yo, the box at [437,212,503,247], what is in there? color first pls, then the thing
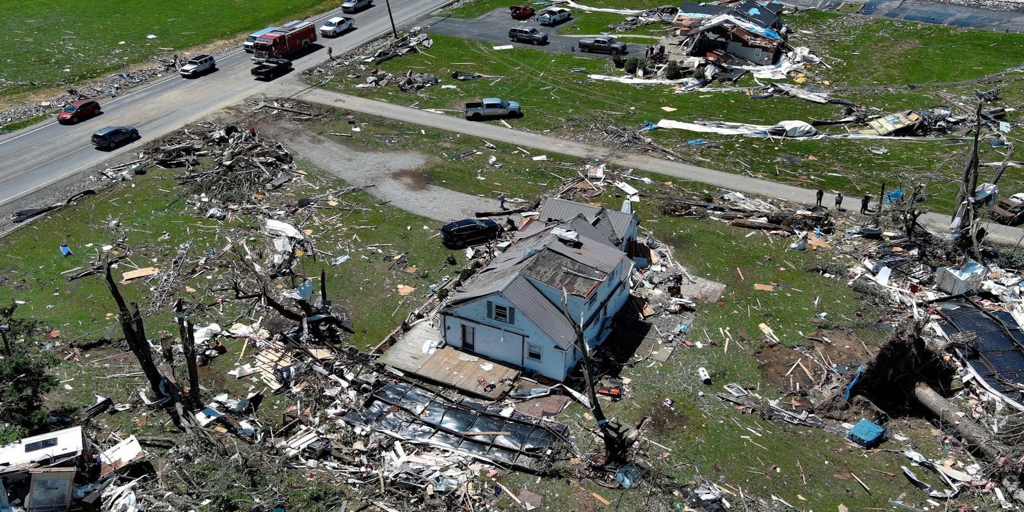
black car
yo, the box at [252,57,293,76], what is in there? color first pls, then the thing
black vehicle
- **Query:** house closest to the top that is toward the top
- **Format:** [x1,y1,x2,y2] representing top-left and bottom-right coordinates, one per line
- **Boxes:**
[675,0,789,65]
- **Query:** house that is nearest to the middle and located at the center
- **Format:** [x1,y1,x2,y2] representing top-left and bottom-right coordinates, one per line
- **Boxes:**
[432,192,652,382]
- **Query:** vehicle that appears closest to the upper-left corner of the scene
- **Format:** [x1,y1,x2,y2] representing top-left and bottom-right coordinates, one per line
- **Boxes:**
[55,96,104,122]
